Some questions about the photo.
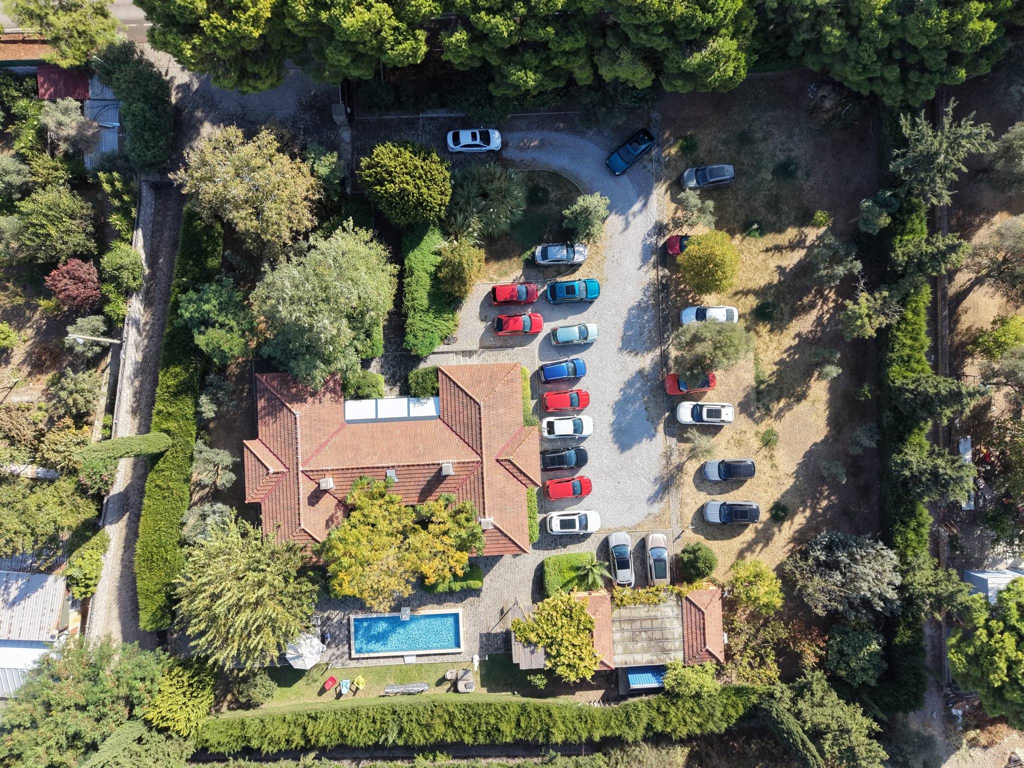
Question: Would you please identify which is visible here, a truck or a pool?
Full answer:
Looking from above, you can make out a pool.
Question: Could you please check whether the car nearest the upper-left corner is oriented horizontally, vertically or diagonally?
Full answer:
The car nearest the upper-left corner runs horizontally in the image.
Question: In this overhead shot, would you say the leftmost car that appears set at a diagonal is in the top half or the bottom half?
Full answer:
You can find the leftmost car that appears set at a diagonal in the top half.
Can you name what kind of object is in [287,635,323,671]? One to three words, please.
umbrella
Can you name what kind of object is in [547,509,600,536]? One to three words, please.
car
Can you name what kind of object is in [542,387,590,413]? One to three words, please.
car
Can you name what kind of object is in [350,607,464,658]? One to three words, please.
swimming pool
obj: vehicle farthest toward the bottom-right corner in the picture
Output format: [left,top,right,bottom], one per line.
[701,500,759,528]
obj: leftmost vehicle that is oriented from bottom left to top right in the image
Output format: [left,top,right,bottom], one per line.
[605,129,655,179]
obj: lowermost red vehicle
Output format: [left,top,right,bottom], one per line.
[545,475,592,501]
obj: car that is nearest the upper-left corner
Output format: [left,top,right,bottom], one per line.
[447,128,501,155]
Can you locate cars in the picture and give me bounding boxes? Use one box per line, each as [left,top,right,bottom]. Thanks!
[608,529,636,586]
[494,311,543,337]
[644,530,670,585]
[540,444,591,471]
[547,277,600,304]
[491,281,538,307]
[547,509,600,536]
[675,400,734,428]
[447,128,501,155]
[666,233,695,259]
[550,320,598,346]
[541,414,594,440]
[701,500,759,528]
[539,357,586,383]
[700,457,756,485]
[535,241,587,267]
[542,387,590,413]
[680,302,737,328]
[605,129,655,179]
[545,475,592,501]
